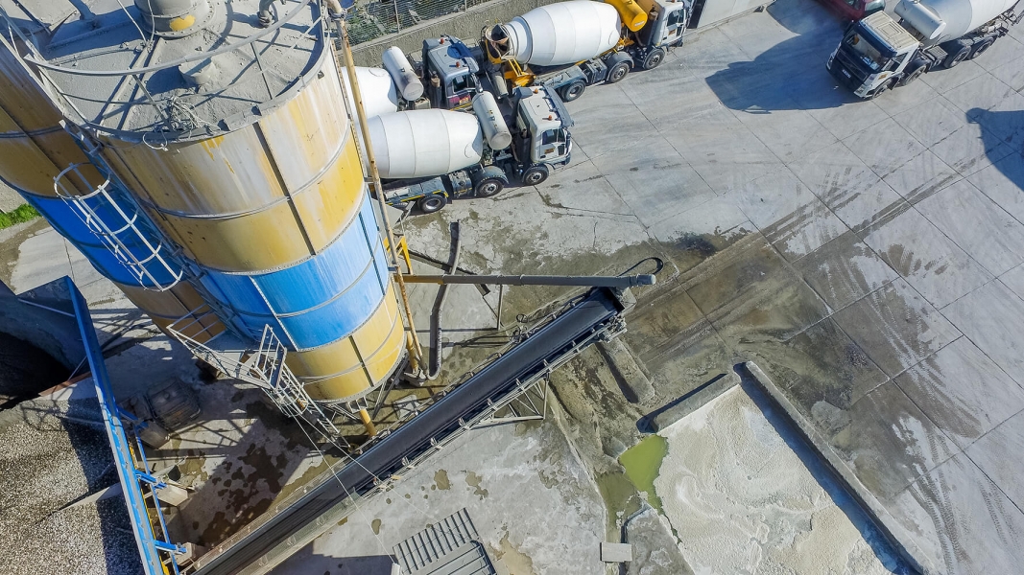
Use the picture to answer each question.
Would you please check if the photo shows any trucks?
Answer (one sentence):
Yes, a truck can be made out from above.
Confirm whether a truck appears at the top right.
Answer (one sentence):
Yes, you'll find a truck at the top right.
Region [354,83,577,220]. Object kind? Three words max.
truck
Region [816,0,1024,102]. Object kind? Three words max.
truck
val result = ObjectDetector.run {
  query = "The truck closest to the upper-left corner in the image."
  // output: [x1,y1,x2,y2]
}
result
[334,34,481,124]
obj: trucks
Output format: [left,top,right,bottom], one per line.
[354,83,577,220]
[476,0,694,104]
[334,34,481,124]
[816,0,1024,102]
